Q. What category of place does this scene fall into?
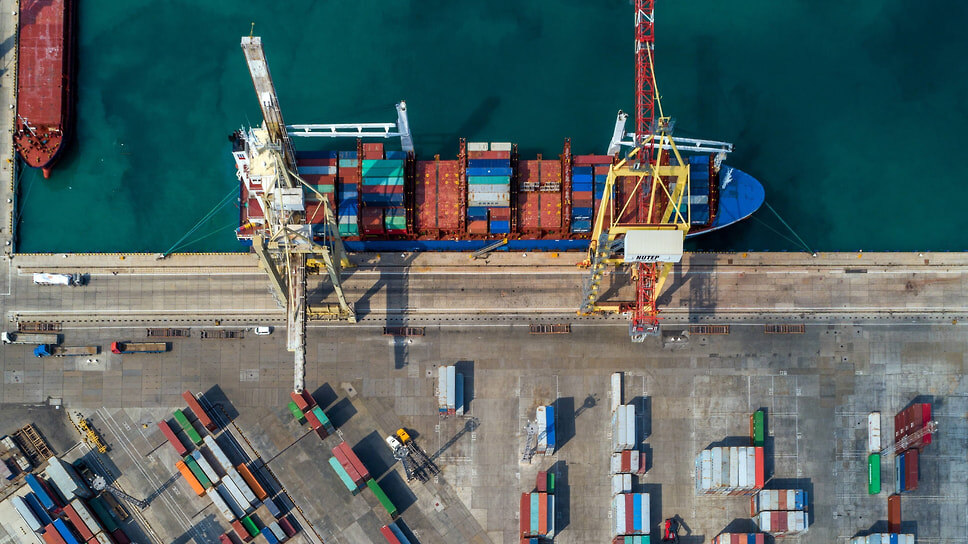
port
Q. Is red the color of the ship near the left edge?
Yes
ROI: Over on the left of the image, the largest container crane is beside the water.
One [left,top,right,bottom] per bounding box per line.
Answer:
[234,22,360,395]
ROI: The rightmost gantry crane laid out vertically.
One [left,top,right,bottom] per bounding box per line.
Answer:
[567,0,693,353]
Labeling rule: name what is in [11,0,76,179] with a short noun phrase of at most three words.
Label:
ship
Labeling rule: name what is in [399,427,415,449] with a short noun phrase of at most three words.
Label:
work vehicle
